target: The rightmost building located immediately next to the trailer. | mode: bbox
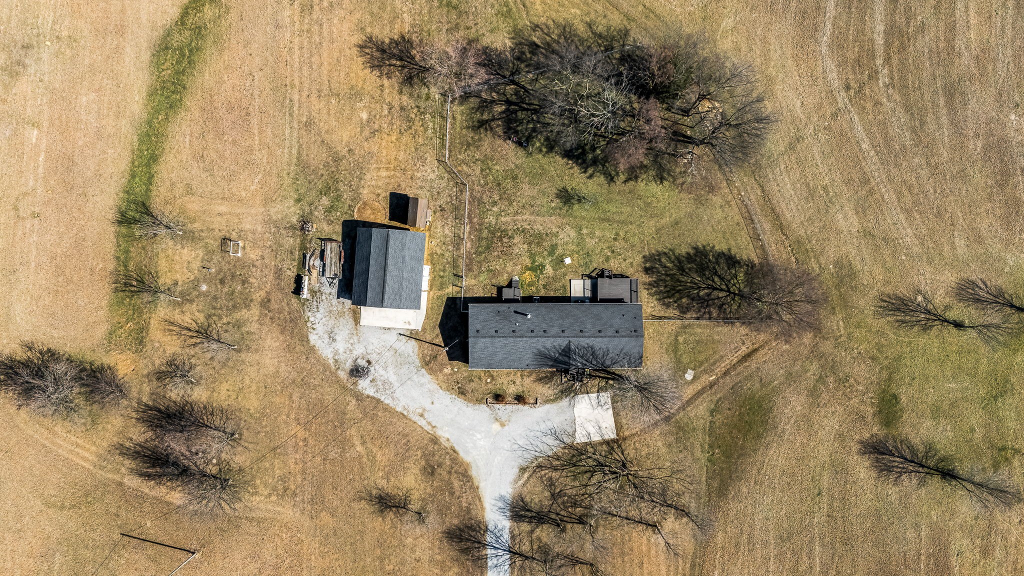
[352,228,426,309]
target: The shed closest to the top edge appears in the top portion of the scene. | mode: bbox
[409,195,432,229]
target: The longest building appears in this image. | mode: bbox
[469,302,644,372]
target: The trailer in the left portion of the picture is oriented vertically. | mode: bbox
[322,243,342,289]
